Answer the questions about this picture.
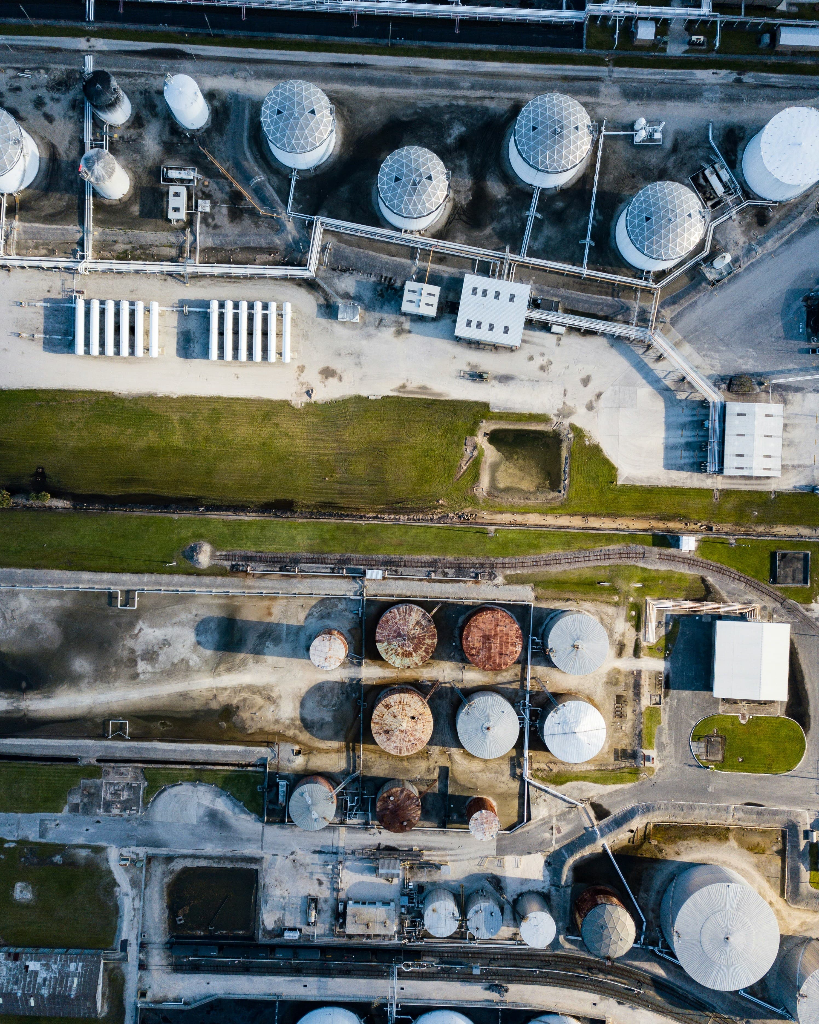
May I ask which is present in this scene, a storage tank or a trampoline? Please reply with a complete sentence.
Visible in the photo is a storage tank.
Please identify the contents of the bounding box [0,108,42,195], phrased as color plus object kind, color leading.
white storage tank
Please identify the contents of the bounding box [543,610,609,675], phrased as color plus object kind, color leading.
white storage tank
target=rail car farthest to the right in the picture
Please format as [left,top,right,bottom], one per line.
[375,949,424,964]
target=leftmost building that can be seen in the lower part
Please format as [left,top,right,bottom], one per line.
[0,942,107,1017]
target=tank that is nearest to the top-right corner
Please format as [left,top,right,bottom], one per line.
[741,106,819,204]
